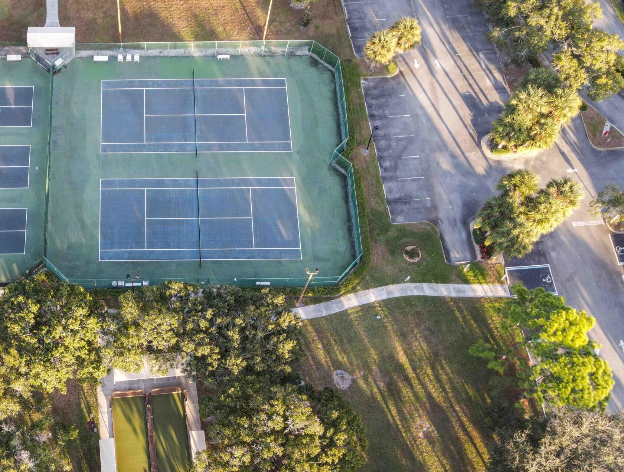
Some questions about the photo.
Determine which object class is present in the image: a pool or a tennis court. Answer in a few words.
tennis court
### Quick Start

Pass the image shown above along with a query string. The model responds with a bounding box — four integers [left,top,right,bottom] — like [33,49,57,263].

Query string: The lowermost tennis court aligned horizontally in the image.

[99,169,301,268]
